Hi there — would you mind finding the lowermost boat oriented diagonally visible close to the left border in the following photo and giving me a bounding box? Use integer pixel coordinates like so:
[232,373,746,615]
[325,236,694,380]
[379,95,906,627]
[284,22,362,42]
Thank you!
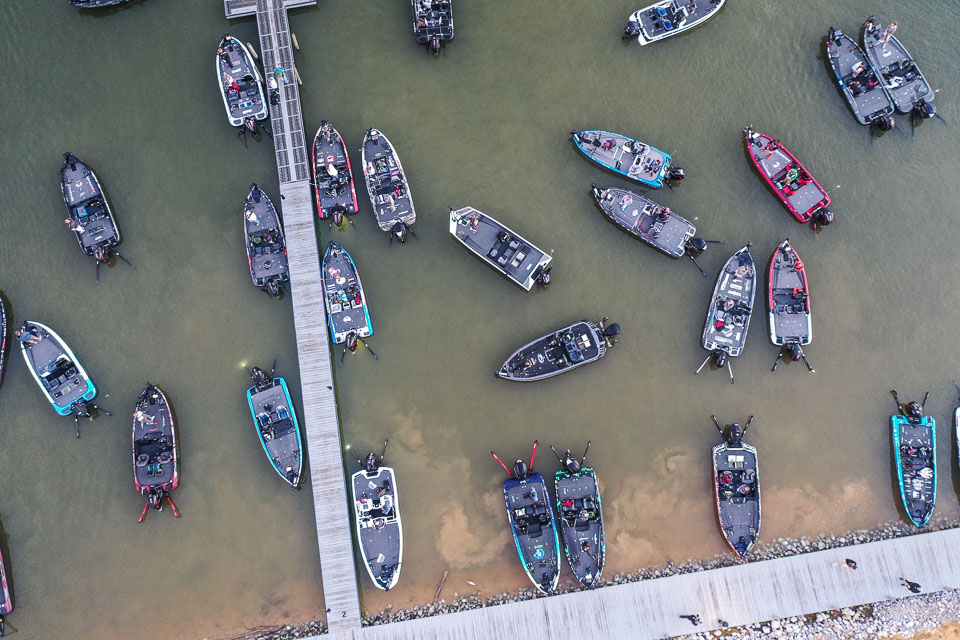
[18,318,112,438]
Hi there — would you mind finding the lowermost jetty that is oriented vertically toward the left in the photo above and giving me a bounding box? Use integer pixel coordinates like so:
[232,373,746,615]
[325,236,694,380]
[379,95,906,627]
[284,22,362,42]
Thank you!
[280,180,364,634]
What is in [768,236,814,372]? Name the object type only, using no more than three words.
boat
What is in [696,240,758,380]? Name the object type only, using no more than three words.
boat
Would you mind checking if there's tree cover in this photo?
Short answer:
No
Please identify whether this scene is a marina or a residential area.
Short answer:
marina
